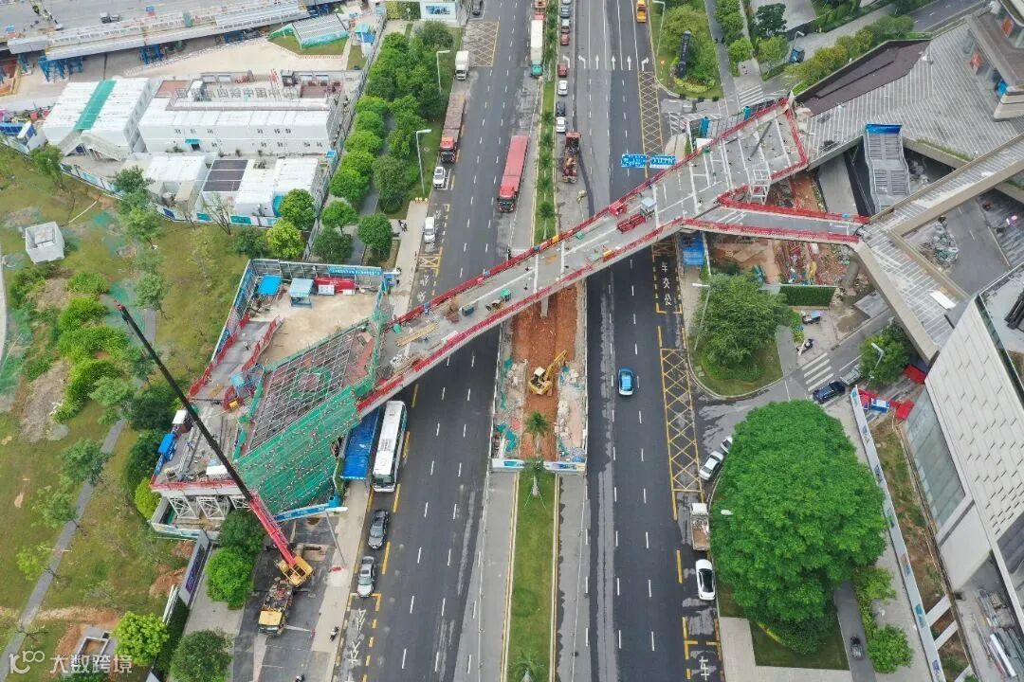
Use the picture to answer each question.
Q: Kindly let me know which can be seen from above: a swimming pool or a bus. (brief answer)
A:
bus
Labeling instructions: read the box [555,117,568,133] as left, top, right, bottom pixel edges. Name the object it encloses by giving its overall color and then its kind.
white vehicle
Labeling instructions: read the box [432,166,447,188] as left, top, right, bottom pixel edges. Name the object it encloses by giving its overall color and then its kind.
white car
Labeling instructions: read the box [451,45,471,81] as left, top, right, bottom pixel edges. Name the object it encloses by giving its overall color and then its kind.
white vehicle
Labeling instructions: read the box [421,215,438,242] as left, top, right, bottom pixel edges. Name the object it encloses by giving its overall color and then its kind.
white car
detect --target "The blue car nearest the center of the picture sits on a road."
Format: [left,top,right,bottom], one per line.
[617,370,634,397]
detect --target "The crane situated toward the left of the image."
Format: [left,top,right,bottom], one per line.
[116,302,334,655]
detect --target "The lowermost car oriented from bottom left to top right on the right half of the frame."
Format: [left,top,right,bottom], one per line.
[696,448,726,482]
